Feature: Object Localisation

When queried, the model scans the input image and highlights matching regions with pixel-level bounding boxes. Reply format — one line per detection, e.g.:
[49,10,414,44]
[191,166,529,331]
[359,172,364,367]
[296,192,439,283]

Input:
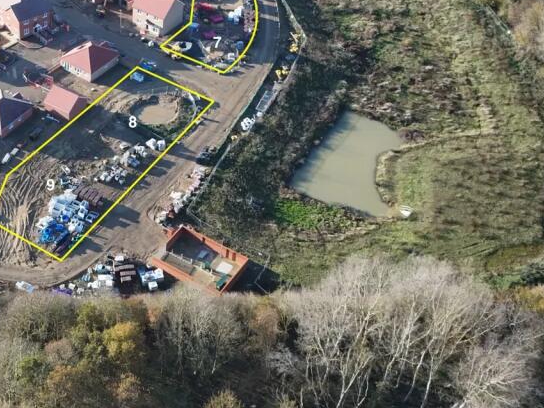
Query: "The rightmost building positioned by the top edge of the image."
[132,0,188,41]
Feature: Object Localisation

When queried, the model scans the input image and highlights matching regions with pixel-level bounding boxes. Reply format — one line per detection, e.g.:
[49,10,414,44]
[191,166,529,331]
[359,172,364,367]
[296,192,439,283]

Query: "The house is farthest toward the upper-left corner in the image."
[0,0,53,42]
